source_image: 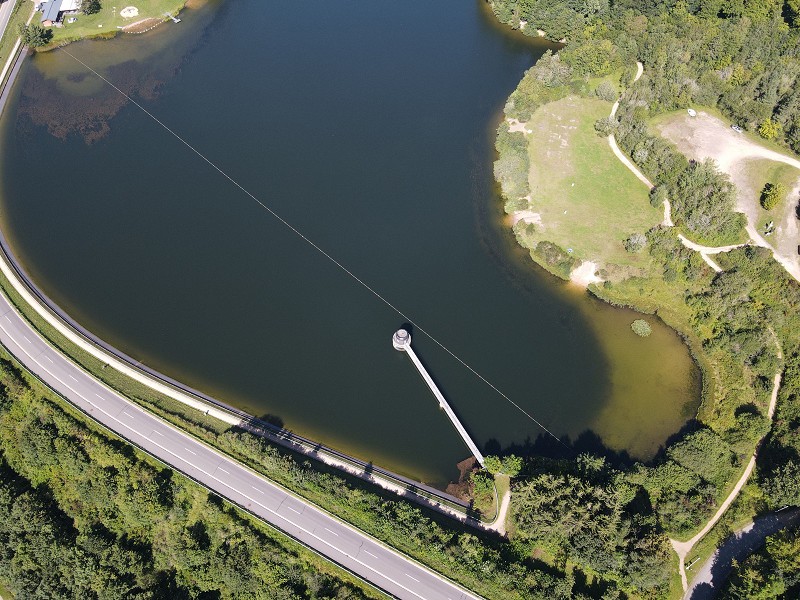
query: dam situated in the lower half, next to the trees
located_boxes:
[0,227,508,541]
